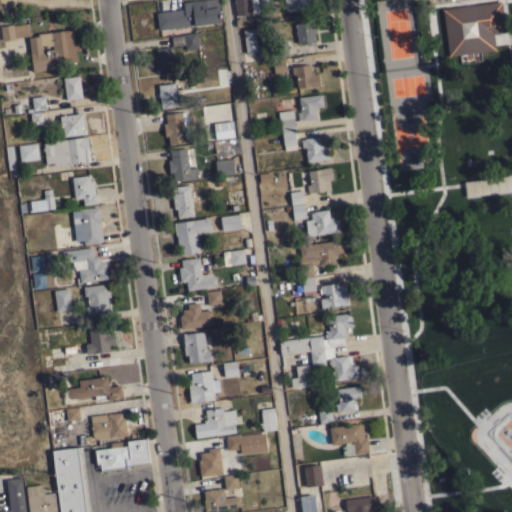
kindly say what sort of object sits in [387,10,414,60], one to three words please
sports court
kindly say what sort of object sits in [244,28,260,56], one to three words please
building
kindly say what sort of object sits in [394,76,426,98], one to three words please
sports court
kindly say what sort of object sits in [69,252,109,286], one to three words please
house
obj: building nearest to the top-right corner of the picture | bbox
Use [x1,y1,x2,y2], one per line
[444,2,504,58]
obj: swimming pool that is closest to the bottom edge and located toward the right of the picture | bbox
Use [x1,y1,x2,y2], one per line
[308,430,327,444]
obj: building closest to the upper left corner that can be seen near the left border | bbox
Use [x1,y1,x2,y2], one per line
[0,23,32,41]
